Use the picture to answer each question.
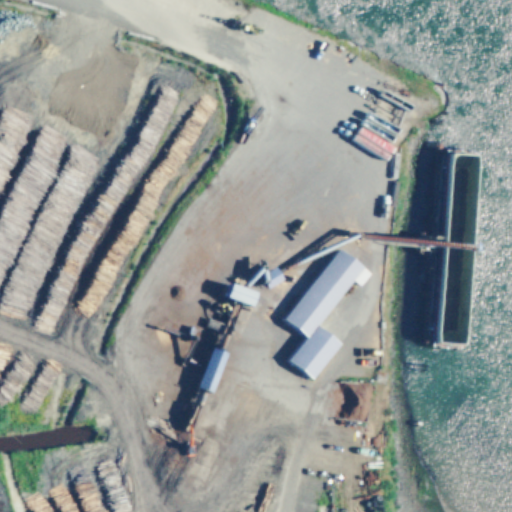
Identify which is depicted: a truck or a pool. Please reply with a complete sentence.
Visible in the photo is a truck.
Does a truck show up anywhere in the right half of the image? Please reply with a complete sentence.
Yes, a truck shows up in the right half of the image.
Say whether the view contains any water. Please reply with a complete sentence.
Yes, there is water in the image.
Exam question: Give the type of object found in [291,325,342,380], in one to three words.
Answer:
shed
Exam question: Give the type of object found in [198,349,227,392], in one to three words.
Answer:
building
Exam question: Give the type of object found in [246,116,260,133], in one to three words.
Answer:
vehicle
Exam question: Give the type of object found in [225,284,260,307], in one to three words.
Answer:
house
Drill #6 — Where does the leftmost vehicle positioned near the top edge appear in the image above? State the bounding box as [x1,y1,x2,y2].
[237,24,258,37]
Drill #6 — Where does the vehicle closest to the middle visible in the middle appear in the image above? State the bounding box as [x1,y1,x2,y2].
[292,215,310,238]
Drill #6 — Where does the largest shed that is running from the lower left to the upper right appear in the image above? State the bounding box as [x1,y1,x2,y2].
[285,250,370,338]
